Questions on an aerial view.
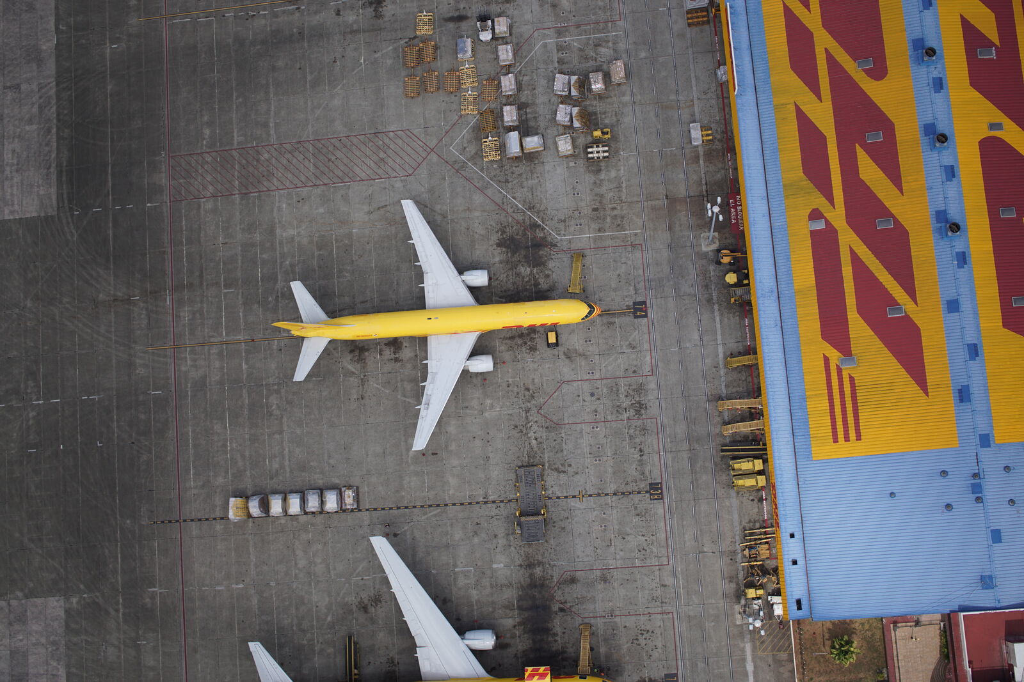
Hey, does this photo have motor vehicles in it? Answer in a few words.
Yes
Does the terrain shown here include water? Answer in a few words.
No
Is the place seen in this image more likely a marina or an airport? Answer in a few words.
airport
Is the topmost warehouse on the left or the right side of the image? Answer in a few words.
right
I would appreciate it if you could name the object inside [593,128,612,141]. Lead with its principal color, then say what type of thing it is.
yellow vehicle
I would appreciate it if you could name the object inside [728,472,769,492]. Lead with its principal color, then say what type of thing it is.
yellow vehicle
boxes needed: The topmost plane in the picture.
[272,199,601,450]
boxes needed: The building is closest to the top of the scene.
[721,0,1024,620]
